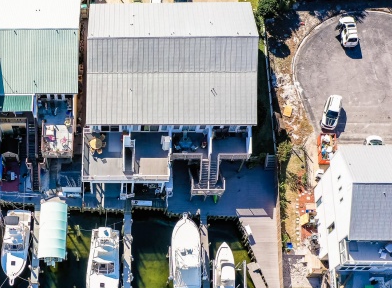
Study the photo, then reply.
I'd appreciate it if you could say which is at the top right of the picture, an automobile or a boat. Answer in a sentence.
You can see an automobile at the top right of the picture.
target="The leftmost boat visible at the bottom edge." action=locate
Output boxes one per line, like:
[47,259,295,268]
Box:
[1,210,31,282]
